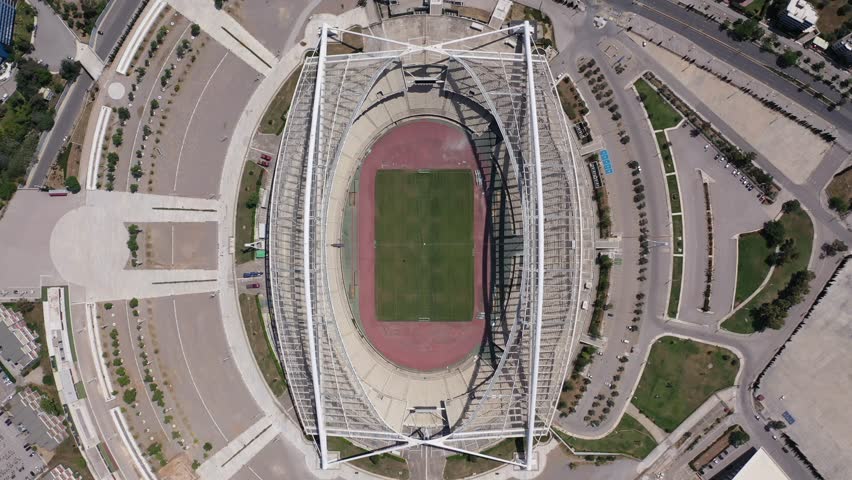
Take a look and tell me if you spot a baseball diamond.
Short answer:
No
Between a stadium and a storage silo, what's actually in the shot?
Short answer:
stadium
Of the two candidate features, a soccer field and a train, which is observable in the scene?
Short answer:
soccer field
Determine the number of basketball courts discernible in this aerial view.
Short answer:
none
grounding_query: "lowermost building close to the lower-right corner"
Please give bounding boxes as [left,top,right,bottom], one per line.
[724,444,795,480]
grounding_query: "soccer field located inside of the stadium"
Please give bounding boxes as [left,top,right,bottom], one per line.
[376,170,473,321]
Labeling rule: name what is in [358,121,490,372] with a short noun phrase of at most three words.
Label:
running track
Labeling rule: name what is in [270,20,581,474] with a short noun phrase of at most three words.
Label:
stadium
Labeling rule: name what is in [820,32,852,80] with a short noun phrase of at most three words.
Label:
building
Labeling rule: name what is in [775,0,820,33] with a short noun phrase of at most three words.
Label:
building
